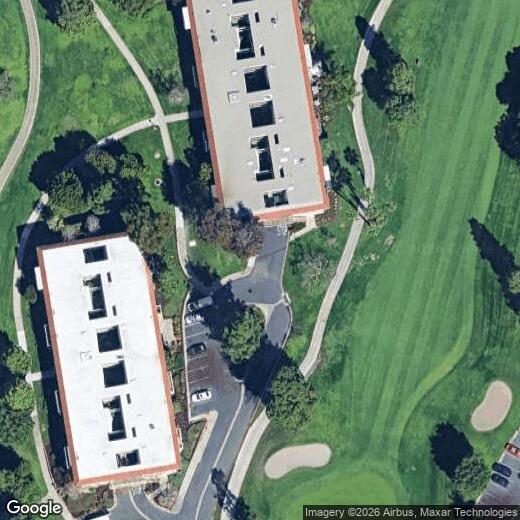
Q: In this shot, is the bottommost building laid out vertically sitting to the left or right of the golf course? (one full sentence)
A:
The bottommost building laid out vertically can be seen on the left of the golf course.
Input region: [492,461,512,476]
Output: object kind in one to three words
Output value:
car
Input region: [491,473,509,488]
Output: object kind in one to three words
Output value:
car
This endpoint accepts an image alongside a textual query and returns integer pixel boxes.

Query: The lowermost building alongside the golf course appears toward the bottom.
[29,228,185,492]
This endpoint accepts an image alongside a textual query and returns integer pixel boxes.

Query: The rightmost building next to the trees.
[177,0,333,232]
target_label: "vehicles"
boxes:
[505,443,520,458]
[185,313,205,324]
[492,461,512,476]
[187,298,212,311]
[191,391,211,401]
[187,343,207,355]
[491,473,509,488]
